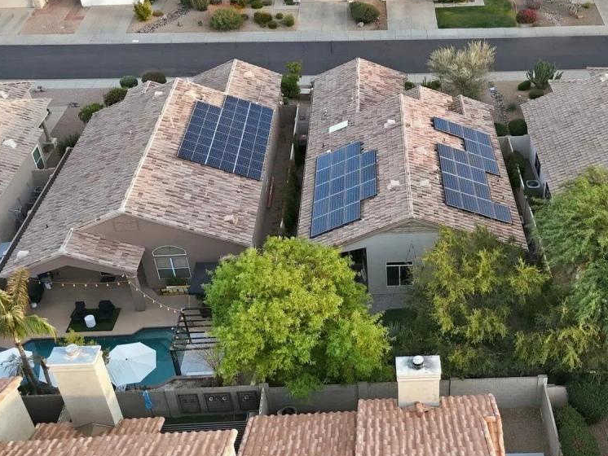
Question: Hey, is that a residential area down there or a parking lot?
residential area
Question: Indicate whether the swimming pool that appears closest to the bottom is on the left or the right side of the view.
left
